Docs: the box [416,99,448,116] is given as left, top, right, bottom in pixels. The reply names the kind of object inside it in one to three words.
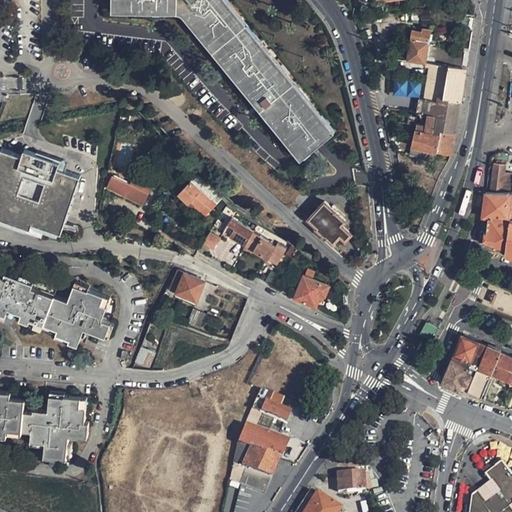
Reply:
building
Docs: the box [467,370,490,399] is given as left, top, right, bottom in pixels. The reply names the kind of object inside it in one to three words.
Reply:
house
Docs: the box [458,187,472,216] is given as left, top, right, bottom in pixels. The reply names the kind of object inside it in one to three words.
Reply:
vehicle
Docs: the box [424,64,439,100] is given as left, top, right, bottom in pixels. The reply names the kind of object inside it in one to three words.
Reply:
shed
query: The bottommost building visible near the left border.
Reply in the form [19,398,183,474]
[0,392,92,464]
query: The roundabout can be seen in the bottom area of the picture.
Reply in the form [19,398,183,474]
[370,273,413,345]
